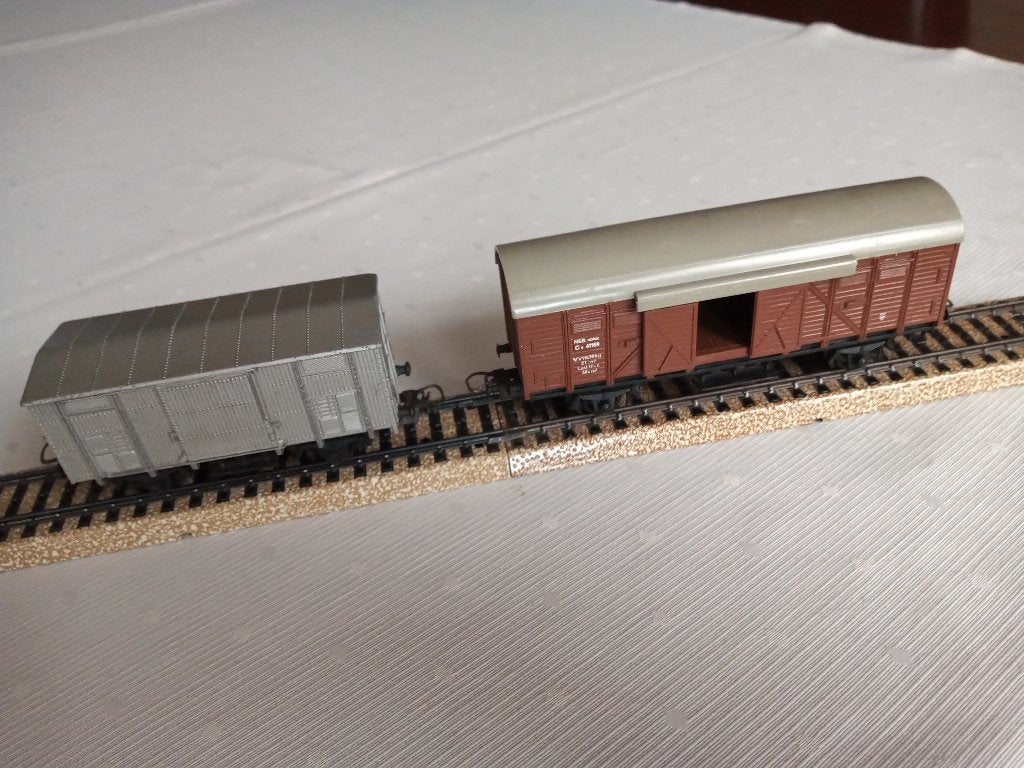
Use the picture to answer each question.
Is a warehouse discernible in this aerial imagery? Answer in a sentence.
No, I can see no warehouse in this picture.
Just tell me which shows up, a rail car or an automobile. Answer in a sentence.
Looking from above, you can make out a rail car.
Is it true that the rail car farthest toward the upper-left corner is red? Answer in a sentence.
No, from above the rail car farthest toward the upper-left corner looks gray.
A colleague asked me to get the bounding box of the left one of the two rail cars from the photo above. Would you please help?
[16,272,444,495]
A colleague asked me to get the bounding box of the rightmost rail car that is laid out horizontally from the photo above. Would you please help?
[466,176,969,416]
